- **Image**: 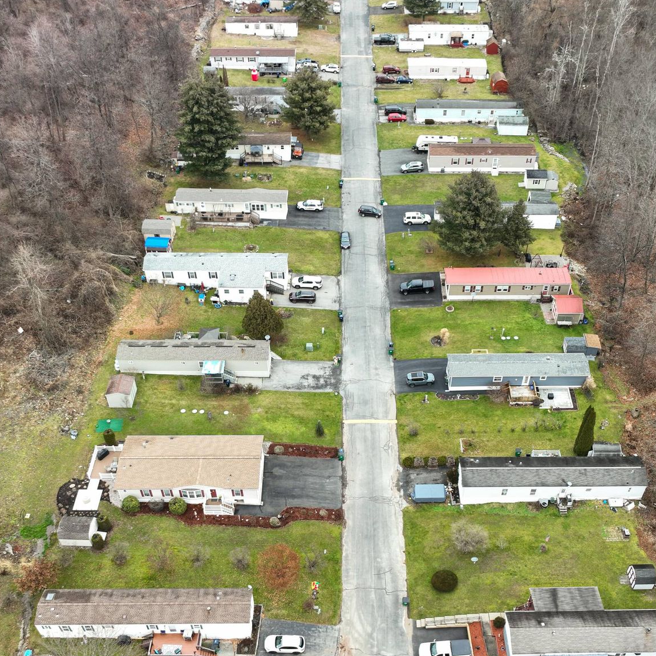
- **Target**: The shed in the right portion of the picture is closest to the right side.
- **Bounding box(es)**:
[629,563,656,590]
